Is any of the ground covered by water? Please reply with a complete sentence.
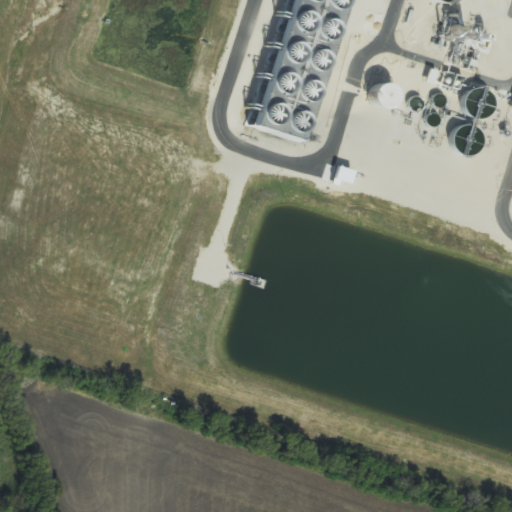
Yes, some water is visible.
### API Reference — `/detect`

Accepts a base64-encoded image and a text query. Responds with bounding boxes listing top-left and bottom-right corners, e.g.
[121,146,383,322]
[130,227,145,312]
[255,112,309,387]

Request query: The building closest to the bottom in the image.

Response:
[332,165,358,186]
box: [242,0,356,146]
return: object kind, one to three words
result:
cooling tower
